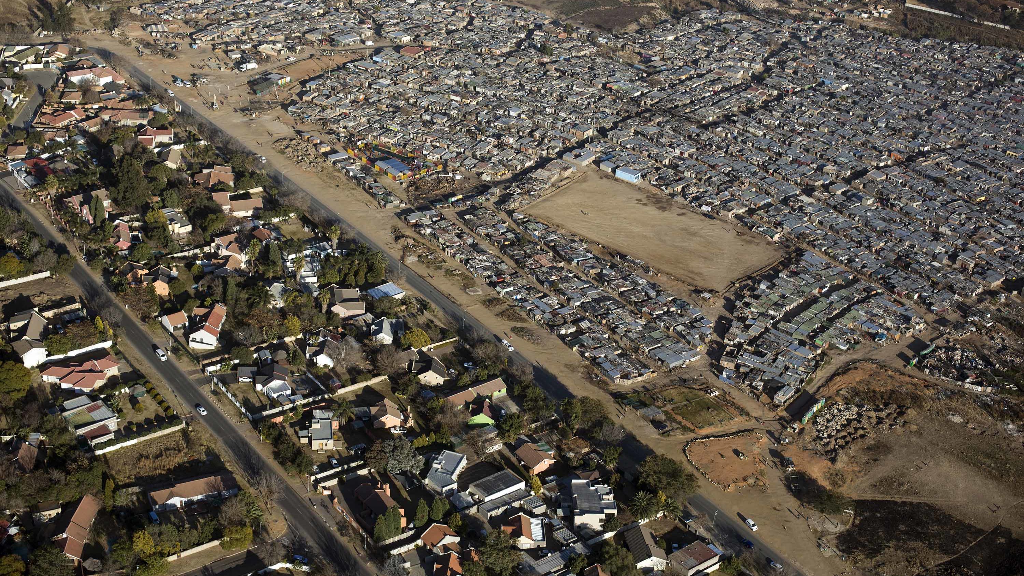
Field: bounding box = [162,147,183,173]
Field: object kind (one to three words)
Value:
house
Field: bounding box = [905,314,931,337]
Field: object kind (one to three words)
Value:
shed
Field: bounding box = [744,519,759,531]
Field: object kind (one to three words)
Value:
vehicle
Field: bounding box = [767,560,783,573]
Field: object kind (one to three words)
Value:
vehicle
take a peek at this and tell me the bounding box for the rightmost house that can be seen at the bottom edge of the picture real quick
[667,537,728,576]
